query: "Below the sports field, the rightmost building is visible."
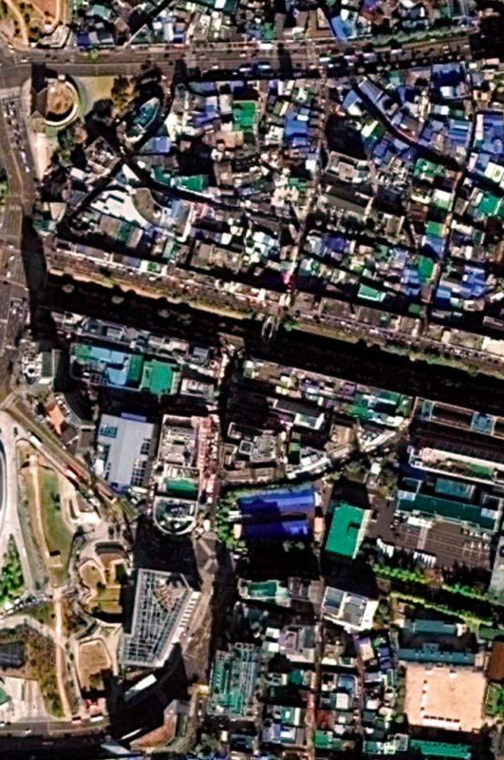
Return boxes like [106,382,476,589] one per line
[410,740,474,758]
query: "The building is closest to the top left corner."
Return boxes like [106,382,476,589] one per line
[42,25,75,48]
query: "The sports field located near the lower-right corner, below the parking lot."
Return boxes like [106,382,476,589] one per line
[406,665,486,732]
